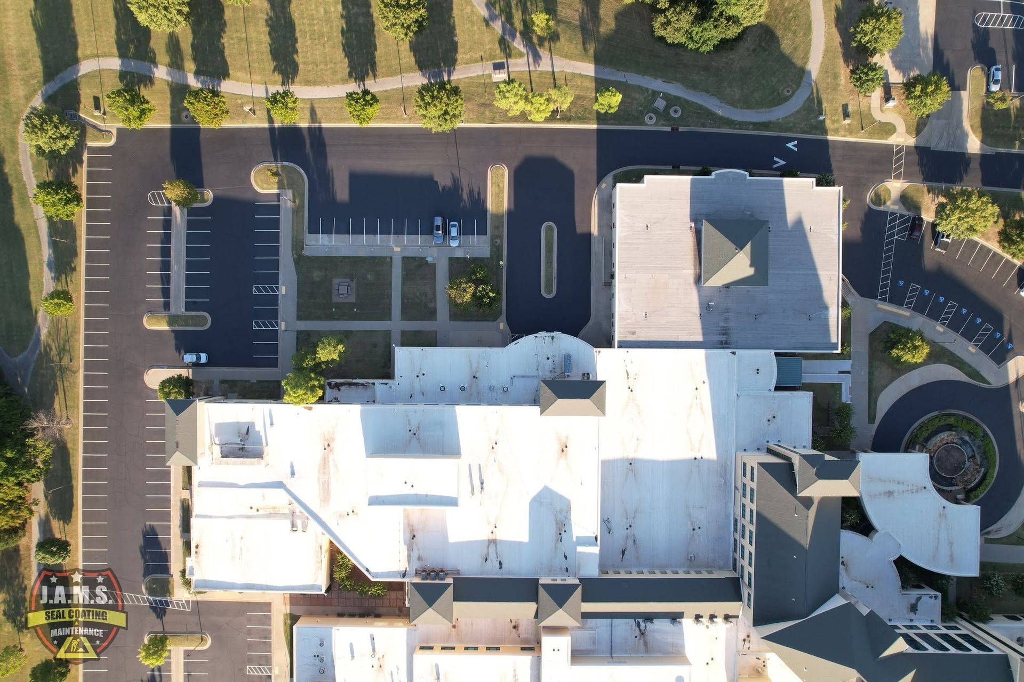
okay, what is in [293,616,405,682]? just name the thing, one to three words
building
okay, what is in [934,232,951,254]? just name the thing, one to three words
vehicle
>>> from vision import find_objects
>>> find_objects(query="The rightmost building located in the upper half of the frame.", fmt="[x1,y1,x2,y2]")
[611,169,842,353]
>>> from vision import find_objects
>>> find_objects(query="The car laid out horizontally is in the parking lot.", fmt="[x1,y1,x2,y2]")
[182,352,209,364]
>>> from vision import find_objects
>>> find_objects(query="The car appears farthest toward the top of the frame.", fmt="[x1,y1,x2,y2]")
[986,65,1000,92]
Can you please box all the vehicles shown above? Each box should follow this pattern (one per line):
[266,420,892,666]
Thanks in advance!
[986,65,1000,92]
[934,232,951,254]
[182,352,209,364]
[433,218,443,243]
[449,221,460,246]
[908,215,924,240]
